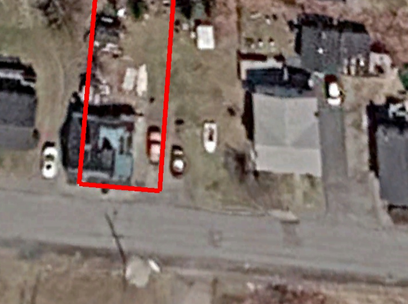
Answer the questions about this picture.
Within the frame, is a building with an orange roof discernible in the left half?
No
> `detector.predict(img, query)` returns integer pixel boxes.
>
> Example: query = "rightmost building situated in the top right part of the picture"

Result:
[341,29,370,75]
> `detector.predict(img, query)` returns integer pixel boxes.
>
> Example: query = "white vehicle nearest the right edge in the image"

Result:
[326,80,343,108]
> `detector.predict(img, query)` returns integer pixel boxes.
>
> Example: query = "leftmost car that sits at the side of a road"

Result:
[41,143,59,178]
